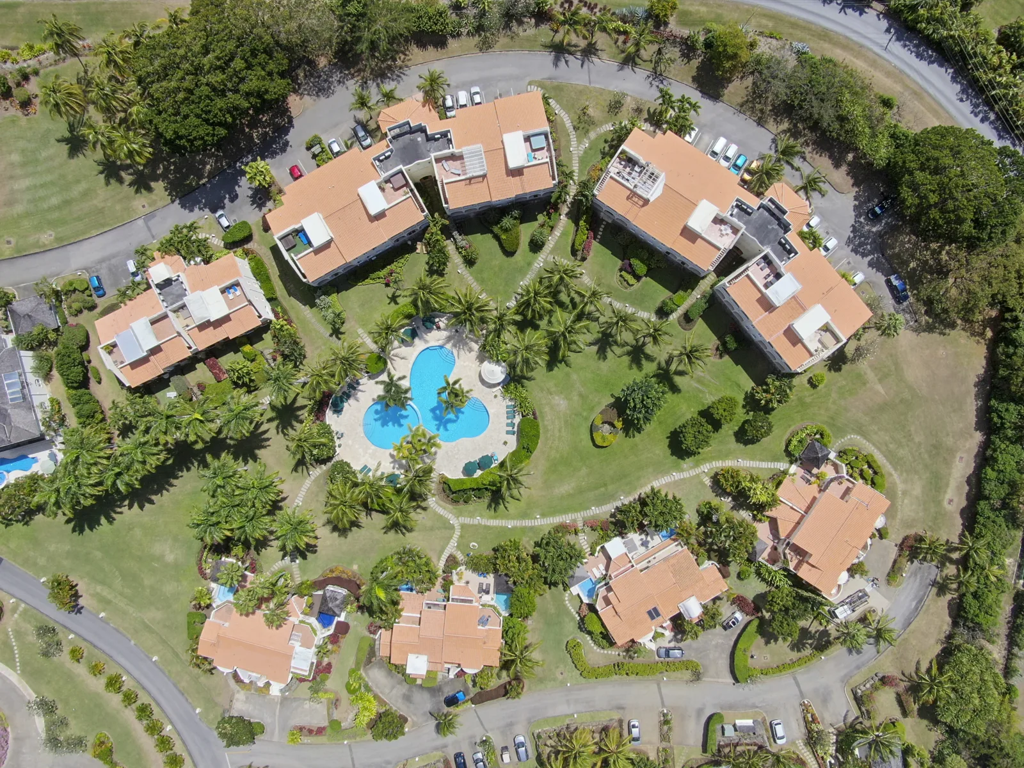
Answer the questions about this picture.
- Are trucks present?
Yes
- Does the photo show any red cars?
Yes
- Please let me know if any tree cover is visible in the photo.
Yes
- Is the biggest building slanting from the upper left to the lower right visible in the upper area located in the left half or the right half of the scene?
right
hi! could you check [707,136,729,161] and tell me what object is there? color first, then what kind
white vehicle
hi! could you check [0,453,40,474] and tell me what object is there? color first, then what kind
blue swimming pool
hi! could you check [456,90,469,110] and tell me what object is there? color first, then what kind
white vehicle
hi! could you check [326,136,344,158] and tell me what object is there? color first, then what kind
white car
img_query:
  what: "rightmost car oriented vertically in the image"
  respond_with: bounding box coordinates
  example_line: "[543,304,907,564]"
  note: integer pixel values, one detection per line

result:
[770,717,785,744]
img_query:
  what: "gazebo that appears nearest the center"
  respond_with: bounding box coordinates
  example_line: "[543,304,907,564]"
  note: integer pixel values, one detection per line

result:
[480,359,505,384]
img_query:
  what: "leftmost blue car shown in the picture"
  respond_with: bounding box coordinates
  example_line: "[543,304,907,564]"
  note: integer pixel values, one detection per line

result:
[89,275,108,298]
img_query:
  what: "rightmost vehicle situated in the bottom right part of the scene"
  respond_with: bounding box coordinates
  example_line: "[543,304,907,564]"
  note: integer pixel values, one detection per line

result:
[828,585,875,620]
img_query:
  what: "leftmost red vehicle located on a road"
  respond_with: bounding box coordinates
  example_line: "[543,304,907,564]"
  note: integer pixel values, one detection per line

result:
[286,161,305,181]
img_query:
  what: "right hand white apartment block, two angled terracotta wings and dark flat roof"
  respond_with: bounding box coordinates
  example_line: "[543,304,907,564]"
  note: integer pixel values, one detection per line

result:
[591,126,873,374]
